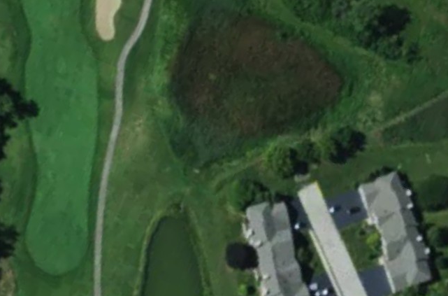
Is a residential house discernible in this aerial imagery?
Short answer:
Yes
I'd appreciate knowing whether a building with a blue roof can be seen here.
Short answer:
No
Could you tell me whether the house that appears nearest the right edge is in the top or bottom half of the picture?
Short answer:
bottom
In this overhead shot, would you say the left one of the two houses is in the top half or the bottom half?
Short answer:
bottom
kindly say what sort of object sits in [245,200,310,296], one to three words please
house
